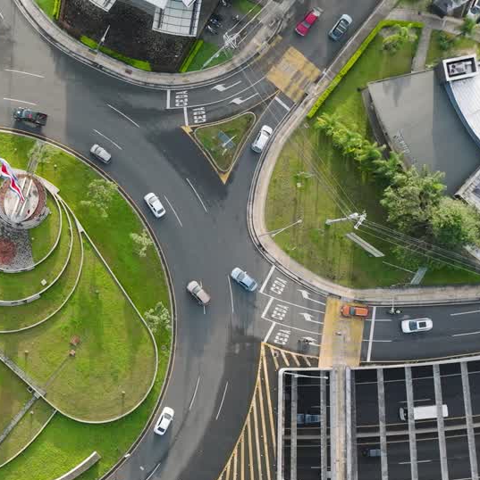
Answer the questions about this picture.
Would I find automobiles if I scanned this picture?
Yes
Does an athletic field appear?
No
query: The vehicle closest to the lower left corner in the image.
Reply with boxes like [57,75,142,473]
[153,406,174,435]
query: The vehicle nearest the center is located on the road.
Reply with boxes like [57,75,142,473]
[229,266,258,291]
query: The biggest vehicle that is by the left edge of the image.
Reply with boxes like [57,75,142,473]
[13,108,48,126]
